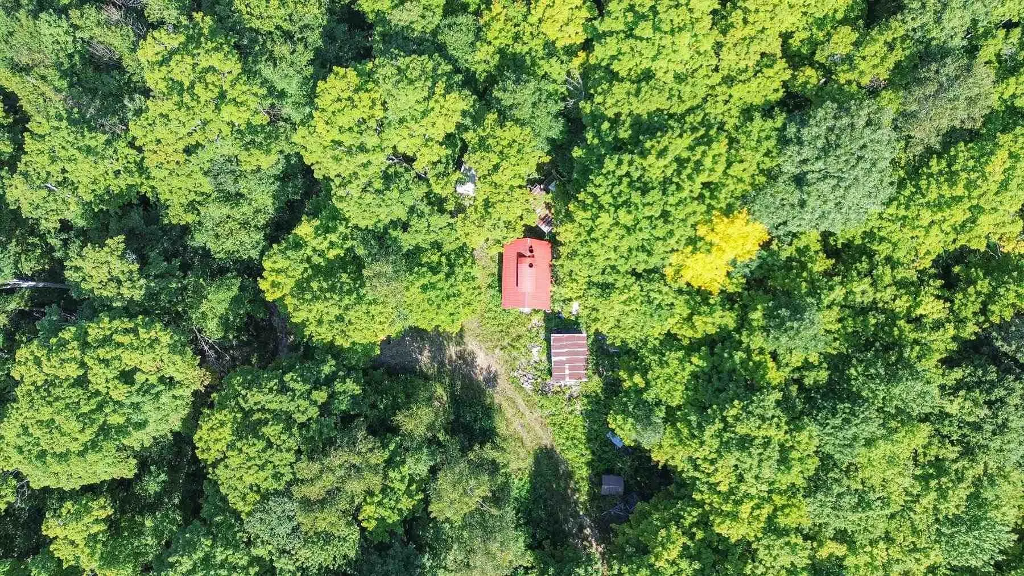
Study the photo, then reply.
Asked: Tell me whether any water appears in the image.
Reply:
No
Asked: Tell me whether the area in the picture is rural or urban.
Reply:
rural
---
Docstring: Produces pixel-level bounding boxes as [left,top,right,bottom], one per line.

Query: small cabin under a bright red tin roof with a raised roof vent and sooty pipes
[502,238,552,313]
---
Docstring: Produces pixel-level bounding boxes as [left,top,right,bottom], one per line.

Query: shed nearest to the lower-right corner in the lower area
[600,471,624,495]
